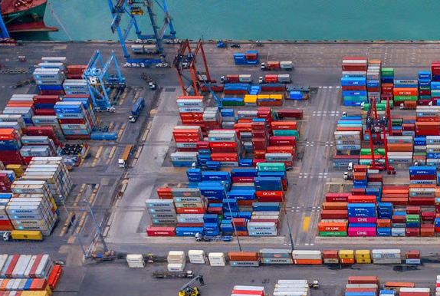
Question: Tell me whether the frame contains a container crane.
Yes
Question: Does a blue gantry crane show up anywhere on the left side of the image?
Yes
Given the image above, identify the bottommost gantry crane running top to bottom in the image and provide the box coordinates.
[366,91,398,168]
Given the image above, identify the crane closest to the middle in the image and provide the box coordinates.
[170,36,213,96]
